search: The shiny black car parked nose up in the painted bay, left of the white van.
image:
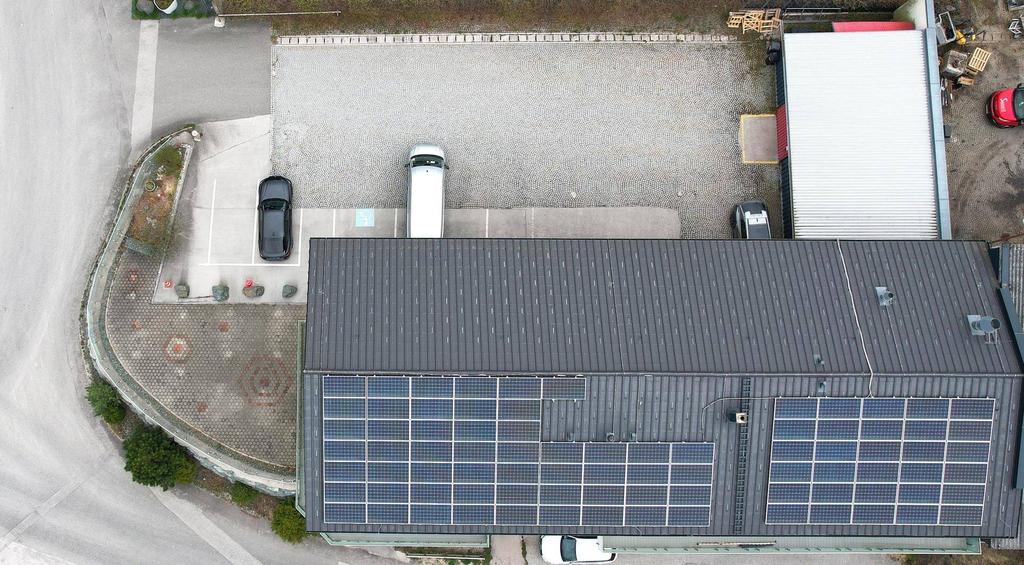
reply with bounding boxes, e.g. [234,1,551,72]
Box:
[256,176,295,262]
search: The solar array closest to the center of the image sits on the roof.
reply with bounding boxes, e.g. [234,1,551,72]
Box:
[323,374,713,526]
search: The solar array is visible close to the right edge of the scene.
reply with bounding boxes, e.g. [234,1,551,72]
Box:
[766,395,995,527]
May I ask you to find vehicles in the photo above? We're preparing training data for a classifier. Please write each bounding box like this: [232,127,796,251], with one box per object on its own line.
[405,144,449,237]
[256,176,295,262]
[538,537,617,565]
[730,200,771,238]
[981,87,1024,128]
